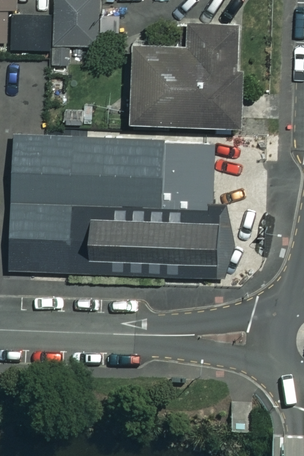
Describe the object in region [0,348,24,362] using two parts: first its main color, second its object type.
white vehicle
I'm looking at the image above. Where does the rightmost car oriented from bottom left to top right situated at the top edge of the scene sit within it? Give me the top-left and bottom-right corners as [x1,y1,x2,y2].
[220,0,244,24]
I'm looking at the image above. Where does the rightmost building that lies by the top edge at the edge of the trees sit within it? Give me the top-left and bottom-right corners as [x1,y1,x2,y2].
[129,22,244,129]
